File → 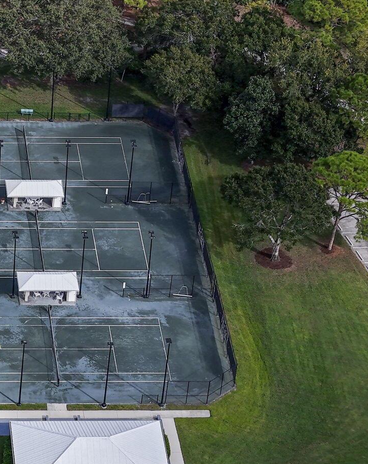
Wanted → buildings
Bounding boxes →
[8,419,170,464]
[4,179,64,211]
[16,271,79,306]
